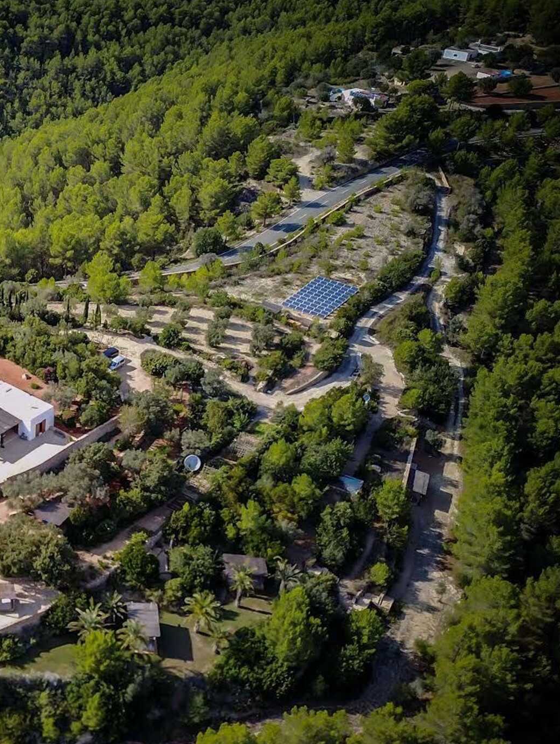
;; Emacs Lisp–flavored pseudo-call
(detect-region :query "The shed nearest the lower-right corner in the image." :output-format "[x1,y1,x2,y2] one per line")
[411,471,430,504]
